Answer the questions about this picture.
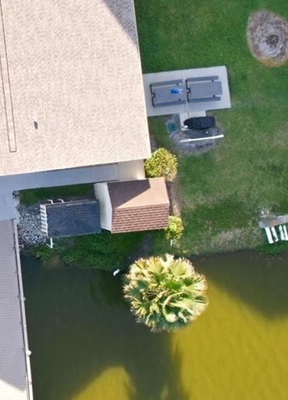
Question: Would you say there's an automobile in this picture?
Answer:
No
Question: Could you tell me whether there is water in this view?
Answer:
Yes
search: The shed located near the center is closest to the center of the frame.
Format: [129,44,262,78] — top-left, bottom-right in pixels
[100,177,174,234]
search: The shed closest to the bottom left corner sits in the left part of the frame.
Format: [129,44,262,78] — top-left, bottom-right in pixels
[37,199,101,246]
